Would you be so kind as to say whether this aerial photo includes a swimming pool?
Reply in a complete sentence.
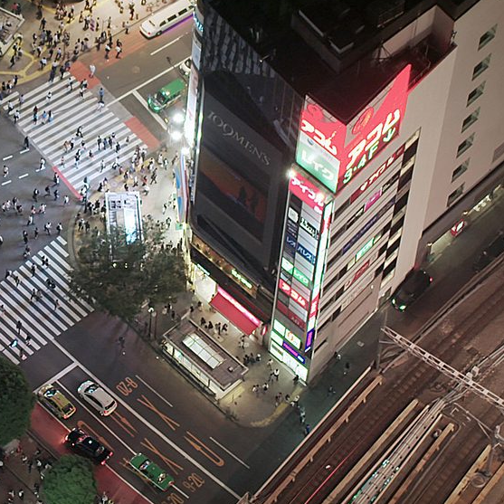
No, the scene contains no swimming pool.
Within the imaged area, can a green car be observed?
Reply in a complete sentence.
Yes, a green car can be made out from above.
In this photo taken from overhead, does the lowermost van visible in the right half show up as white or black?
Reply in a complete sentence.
From above, the lowermost van visible in the right half appears black.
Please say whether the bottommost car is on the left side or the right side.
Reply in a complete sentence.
The bottommost car sits on the left side.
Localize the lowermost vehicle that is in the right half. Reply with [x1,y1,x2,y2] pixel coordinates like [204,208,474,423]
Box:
[392,262,437,308]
